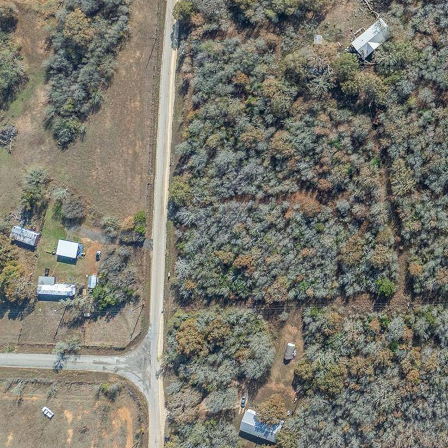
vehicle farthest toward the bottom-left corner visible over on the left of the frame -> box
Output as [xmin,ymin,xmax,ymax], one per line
[41,406,55,420]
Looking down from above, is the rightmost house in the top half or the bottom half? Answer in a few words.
top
